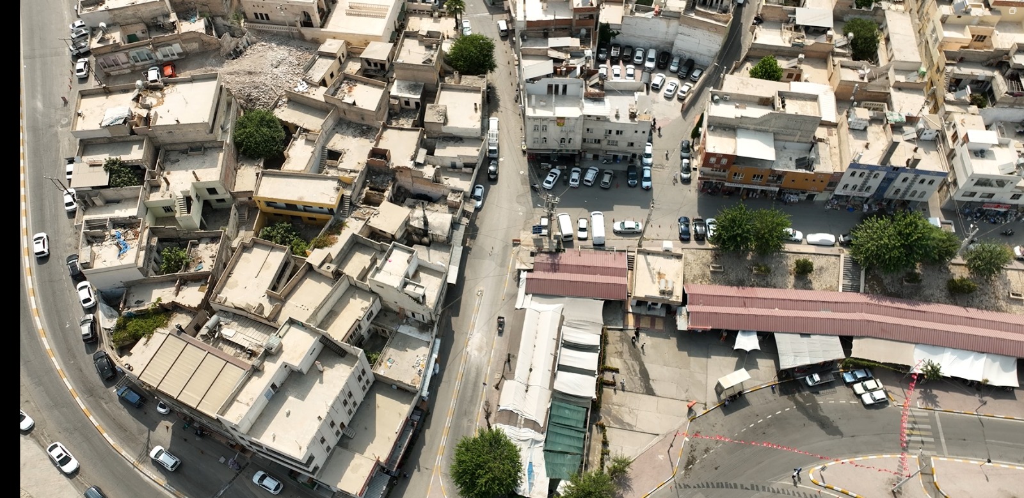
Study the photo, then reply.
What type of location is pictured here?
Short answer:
residential area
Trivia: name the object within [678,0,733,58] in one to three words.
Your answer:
house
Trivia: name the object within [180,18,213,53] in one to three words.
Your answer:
house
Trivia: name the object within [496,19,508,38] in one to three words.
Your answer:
vehicle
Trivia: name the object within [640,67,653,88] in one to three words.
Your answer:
vehicle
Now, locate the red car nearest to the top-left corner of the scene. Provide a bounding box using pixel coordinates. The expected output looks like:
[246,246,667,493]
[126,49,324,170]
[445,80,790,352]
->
[162,61,176,79]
